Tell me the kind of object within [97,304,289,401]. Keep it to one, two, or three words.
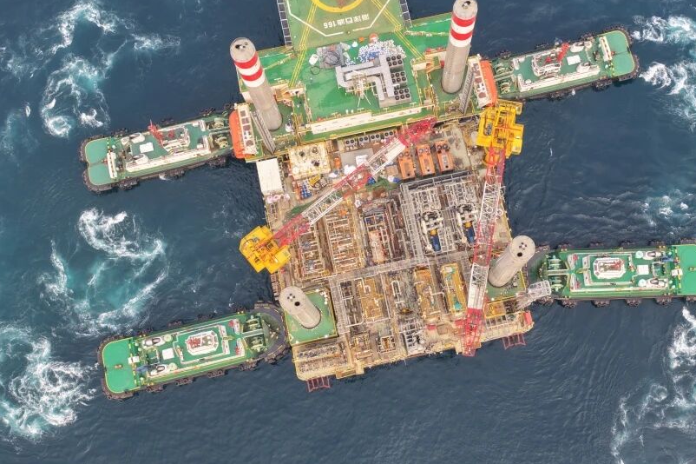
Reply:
boat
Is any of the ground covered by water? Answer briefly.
Yes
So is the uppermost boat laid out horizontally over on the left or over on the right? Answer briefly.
right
